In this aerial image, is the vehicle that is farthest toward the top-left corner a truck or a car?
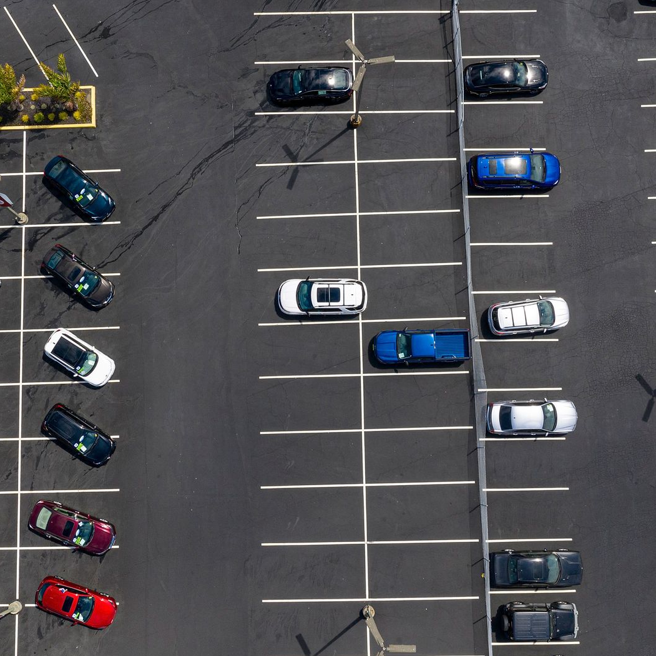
car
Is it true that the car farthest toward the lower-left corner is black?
No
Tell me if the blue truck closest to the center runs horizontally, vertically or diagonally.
horizontally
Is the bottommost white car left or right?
right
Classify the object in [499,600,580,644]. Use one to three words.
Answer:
car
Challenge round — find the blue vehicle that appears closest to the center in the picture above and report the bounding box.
[373,326,472,370]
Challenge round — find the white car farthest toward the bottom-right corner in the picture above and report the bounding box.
[485,396,576,439]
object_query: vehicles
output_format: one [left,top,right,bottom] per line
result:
[373,326,472,370]
[467,149,560,191]
[278,276,367,318]
[268,64,353,105]
[41,243,113,309]
[40,403,115,467]
[43,154,115,222]
[28,500,116,555]
[485,396,576,439]
[499,600,580,644]
[464,55,547,99]
[35,574,117,630]
[44,327,113,386]
[486,294,569,336]
[491,548,582,591]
